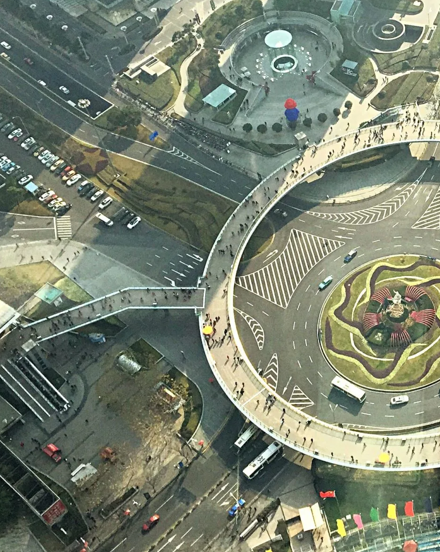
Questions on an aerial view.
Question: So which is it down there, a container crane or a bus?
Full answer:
Visible in the photo is a bus.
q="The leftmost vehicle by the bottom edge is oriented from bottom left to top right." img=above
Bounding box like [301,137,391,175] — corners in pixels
[141,514,161,532]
